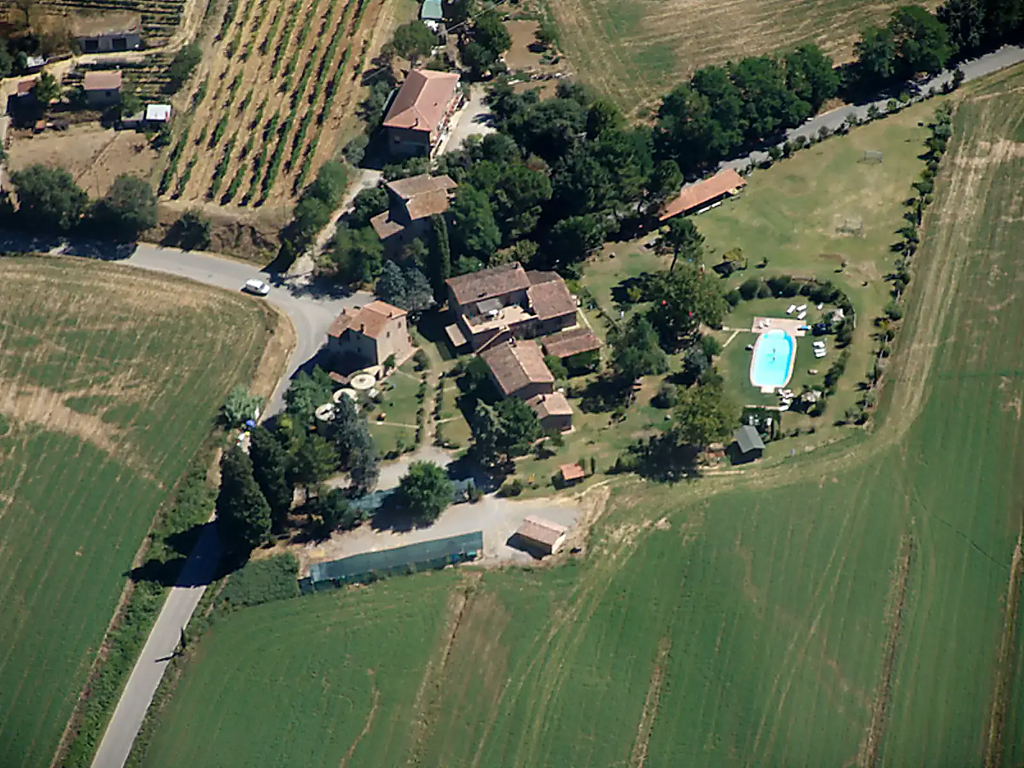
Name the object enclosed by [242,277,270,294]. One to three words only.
vehicle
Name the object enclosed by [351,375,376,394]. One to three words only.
umbrella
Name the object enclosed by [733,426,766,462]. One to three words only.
shed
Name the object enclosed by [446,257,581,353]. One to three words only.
house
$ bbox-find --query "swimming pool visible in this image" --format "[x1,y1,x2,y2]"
[751,317,806,393]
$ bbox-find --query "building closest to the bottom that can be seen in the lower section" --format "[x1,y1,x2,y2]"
[517,515,566,554]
